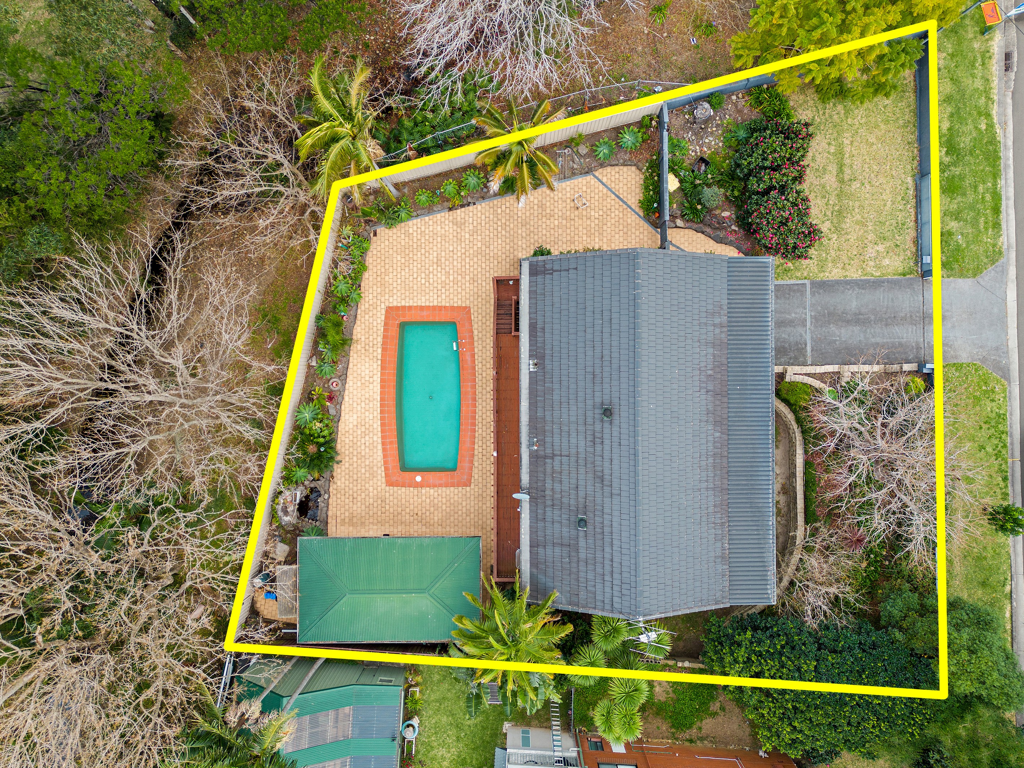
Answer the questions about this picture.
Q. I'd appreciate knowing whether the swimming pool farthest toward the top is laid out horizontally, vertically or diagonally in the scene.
vertically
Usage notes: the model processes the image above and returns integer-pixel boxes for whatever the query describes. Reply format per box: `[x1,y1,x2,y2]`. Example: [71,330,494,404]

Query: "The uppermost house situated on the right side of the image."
[520,242,779,625]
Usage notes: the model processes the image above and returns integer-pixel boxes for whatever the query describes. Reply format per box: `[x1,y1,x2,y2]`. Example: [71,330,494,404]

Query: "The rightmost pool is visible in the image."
[380,305,476,488]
